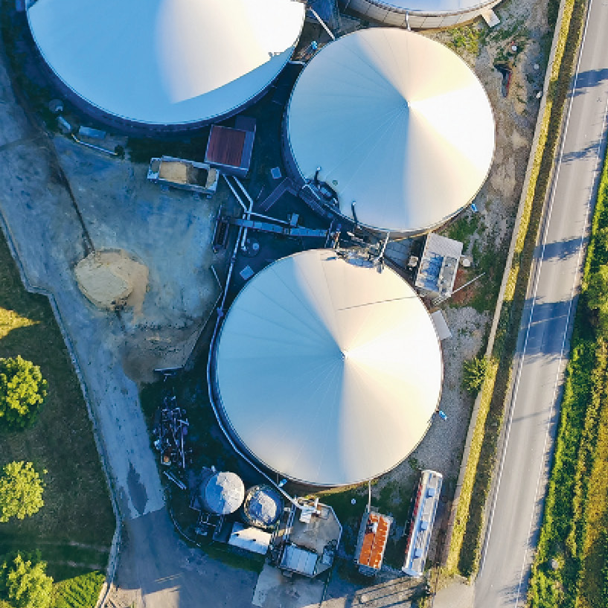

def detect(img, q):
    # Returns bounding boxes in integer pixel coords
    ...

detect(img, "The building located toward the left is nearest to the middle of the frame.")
[204,124,255,175]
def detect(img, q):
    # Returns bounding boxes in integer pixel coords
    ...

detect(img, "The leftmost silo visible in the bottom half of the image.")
[196,465,247,516]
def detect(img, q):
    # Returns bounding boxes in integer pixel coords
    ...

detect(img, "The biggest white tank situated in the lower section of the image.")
[210,241,445,490]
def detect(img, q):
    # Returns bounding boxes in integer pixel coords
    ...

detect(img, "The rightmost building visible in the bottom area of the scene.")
[229,523,270,557]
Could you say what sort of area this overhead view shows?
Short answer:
industrial area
